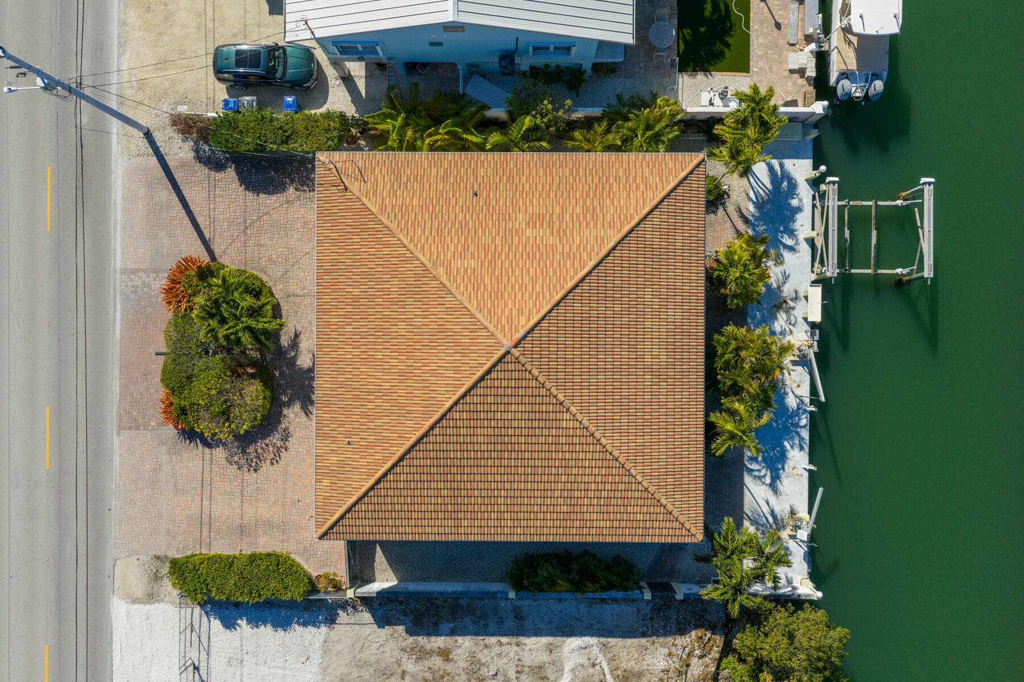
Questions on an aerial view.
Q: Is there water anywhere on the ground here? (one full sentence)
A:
Yes, there's water in this view.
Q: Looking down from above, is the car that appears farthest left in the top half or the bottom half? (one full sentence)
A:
The top half of the photo is where the car that appears farthest left is.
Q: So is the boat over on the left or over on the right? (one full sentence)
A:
The boat sits on the right side.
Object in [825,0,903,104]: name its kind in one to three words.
boat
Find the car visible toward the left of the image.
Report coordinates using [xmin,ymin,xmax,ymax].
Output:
[215,39,318,90]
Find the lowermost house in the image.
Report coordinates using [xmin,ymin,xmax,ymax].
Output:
[314,150,707,543]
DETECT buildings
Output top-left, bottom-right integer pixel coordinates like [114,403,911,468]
[314,150,707,543]
[283,0,637,97]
